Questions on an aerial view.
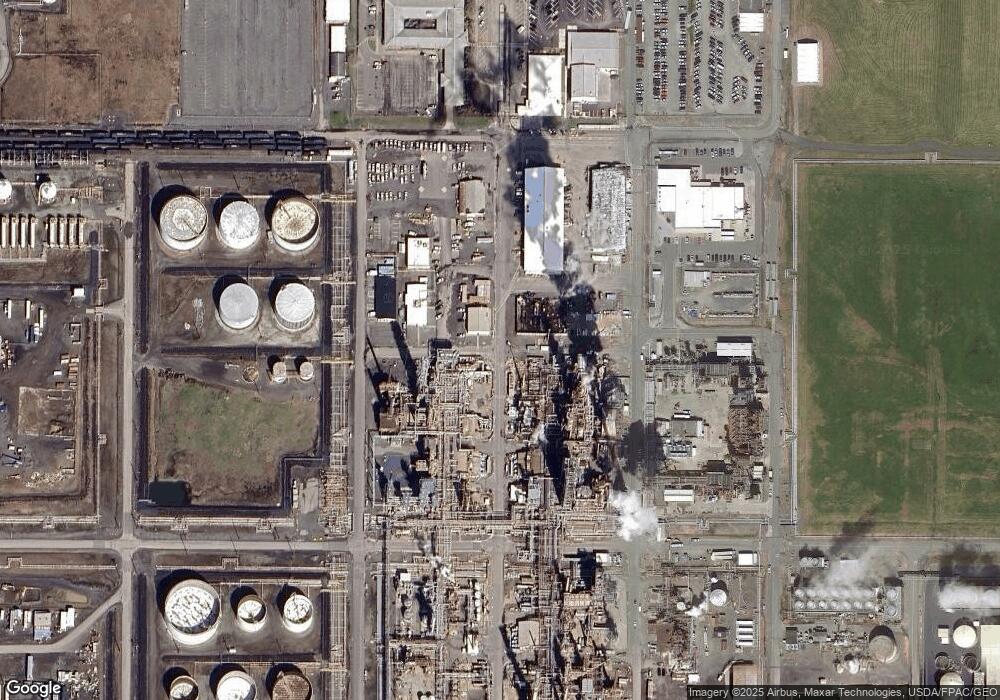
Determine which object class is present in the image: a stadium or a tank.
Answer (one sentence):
This aerial view contains a tank.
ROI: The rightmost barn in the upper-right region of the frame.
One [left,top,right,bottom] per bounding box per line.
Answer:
[797,41,818,86]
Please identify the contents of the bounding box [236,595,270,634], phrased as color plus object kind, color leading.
white storage tank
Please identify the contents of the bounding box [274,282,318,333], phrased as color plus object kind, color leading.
white storage tank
